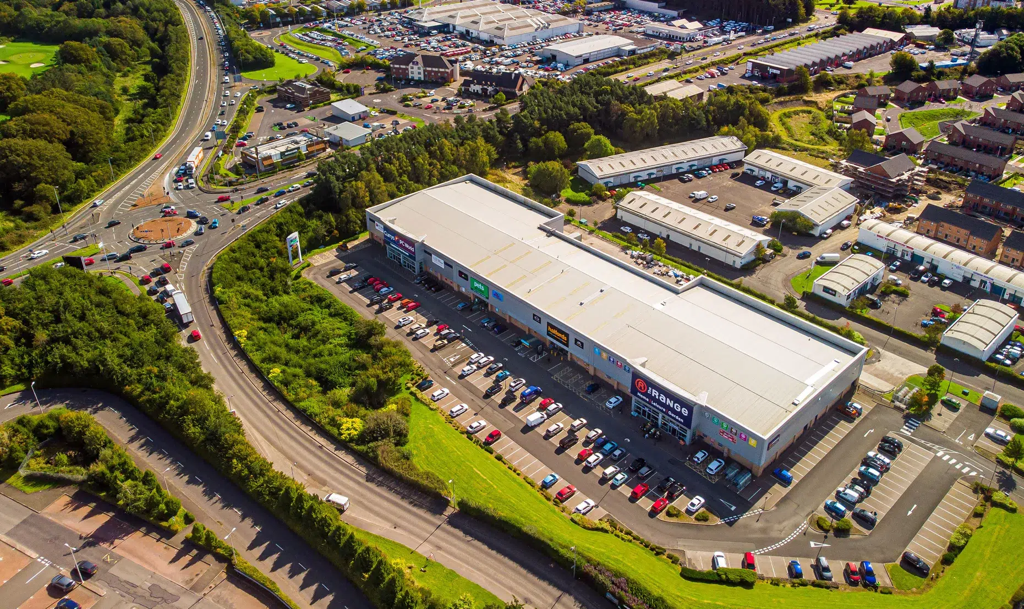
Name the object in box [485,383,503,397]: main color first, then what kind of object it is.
black car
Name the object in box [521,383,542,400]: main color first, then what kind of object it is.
blue vehicle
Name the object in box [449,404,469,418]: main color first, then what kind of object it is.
white car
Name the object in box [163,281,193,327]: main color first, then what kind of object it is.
white truck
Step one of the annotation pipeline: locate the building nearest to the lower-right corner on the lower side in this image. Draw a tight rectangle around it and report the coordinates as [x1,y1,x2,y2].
[981,382,1004,412]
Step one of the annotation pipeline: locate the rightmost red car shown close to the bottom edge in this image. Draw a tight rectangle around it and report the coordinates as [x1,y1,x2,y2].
[844,563,861,585]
